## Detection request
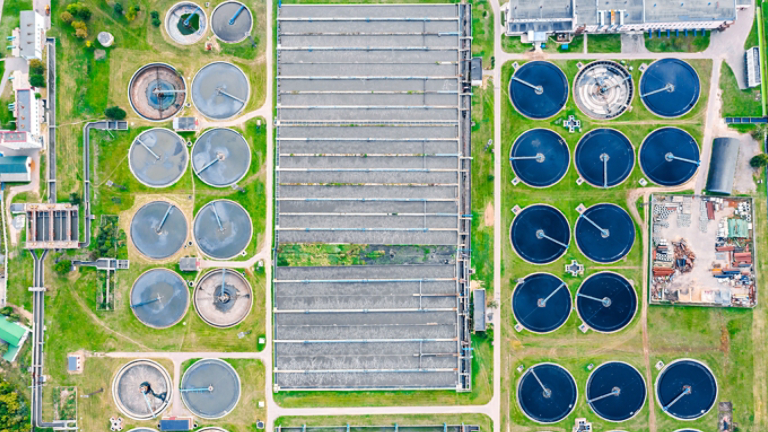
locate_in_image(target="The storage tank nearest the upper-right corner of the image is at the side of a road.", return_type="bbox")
[639,57,700,118]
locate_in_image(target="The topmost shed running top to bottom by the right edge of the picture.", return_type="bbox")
[746,46,761,88]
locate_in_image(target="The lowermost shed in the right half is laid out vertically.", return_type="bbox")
[472,288,485,331]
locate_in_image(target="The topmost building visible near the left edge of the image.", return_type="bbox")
[4,10,46,61]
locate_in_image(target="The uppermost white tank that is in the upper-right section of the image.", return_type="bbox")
[573,59,634,121]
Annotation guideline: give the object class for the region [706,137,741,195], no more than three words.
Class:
hangar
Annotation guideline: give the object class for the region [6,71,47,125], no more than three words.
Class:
building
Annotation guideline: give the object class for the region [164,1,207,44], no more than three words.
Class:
storage tank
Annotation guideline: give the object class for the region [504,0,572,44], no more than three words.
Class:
building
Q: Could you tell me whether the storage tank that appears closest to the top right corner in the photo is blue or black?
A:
blue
